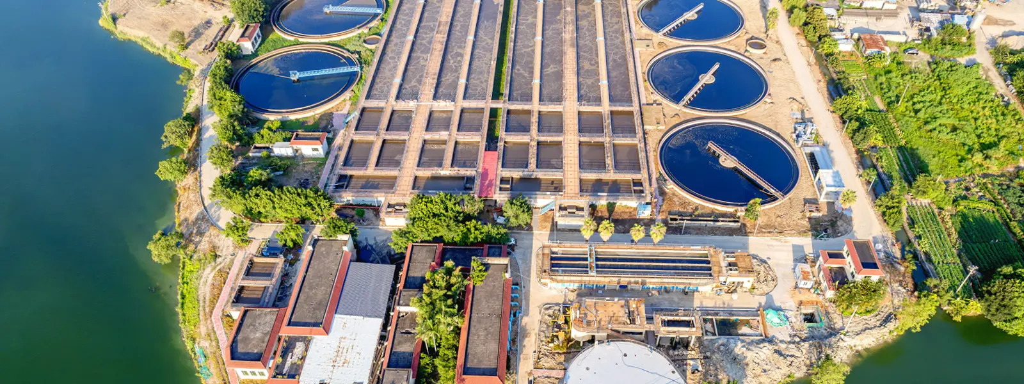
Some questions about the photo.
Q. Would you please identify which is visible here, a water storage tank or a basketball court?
water storage tank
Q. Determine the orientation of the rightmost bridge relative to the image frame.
diagonally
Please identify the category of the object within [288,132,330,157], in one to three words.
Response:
building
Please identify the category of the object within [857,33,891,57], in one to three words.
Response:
house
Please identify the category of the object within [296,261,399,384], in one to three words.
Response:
shed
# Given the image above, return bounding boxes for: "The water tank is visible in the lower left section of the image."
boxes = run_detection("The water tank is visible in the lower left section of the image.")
[222,256,292,314]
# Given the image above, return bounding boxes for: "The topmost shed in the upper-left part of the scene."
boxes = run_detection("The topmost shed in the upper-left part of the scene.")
[234,22,264,54]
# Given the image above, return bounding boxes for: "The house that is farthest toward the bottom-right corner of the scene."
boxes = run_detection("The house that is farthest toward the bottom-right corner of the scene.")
[817,238,885,299]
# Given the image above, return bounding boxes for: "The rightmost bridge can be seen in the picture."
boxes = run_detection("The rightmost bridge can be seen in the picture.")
[700,137,787,200]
